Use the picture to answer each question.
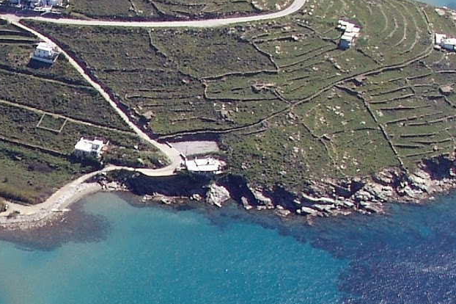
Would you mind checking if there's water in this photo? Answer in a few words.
Yes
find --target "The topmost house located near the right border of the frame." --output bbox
[432,33,456,53]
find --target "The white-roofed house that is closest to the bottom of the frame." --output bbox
[184,158,219,179]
